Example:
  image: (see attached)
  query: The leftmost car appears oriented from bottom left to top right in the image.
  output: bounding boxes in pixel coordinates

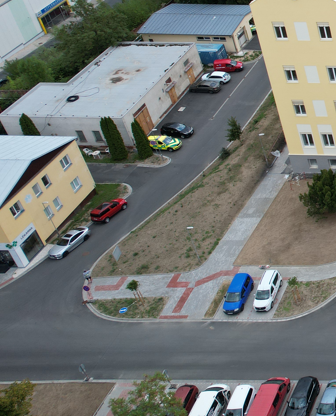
[46,223,93,257]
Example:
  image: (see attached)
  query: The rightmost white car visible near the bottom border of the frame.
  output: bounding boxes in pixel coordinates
[221,388,257,416]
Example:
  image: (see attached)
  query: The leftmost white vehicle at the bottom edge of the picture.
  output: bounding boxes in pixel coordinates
[188,385,228,416]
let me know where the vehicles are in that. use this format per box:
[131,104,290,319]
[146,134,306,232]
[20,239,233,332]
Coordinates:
[85,194,132,221]
[186,79,222,93]
[221,388,257,416]
[210,56,244,71]
[46,223,93,257]
[148,132,183,149]
[156,119,195,136]
[314,381,336,416]
[253,271,285,311]
[249,378,290,416]
[160,388,199,416]
[222,271,258,315]
[283,380,321,416]
[188,385,228,416]
[197,68,233,82]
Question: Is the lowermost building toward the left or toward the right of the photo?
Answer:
left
